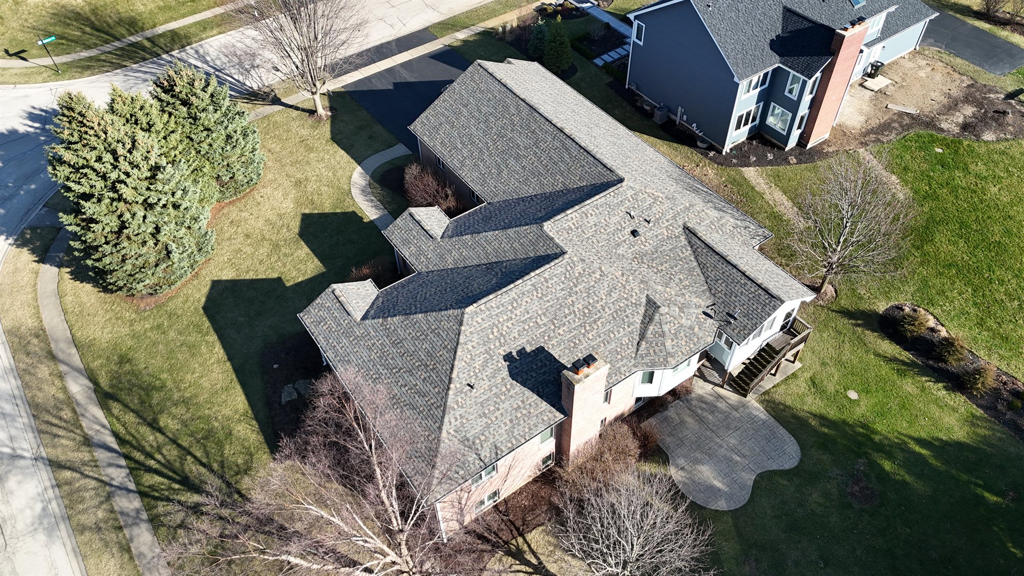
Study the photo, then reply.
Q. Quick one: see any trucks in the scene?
No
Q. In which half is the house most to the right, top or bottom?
top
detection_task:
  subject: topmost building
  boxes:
[624,0,941,156]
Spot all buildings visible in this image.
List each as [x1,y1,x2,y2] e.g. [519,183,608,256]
[624,0,941,156]
[297,58,817,541]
